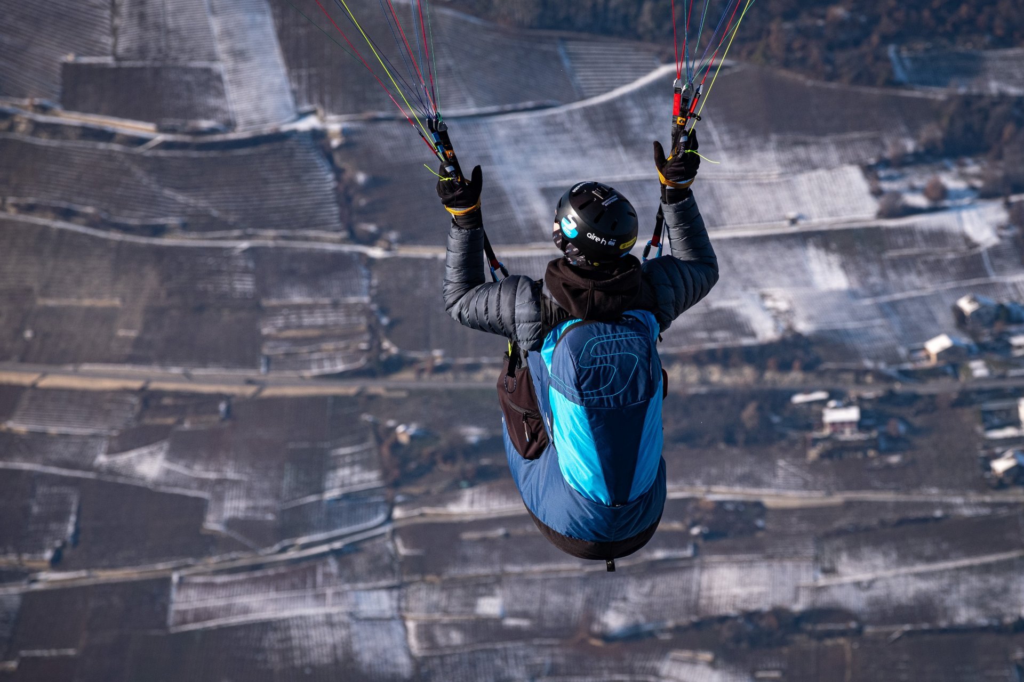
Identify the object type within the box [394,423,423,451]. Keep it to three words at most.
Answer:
house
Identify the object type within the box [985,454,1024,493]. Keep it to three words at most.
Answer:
house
